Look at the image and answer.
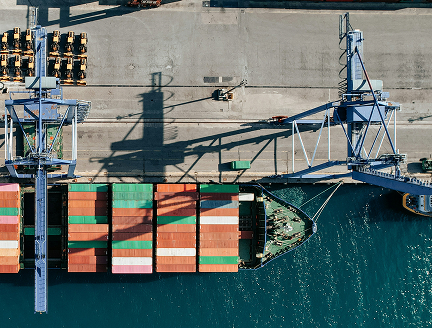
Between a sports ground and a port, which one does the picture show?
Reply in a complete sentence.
It's a port.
